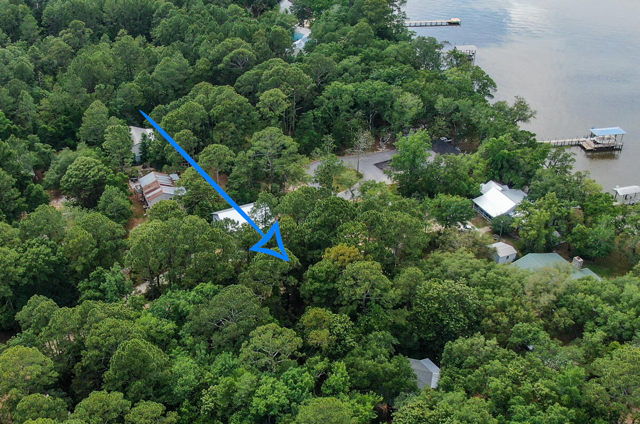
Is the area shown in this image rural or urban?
rural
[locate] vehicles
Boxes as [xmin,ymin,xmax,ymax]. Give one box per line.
[459,222,477,230]
[438,136,454,142]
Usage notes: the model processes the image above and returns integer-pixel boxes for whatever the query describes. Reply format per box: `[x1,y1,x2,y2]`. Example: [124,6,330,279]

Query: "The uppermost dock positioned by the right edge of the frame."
[542,137,624,153]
